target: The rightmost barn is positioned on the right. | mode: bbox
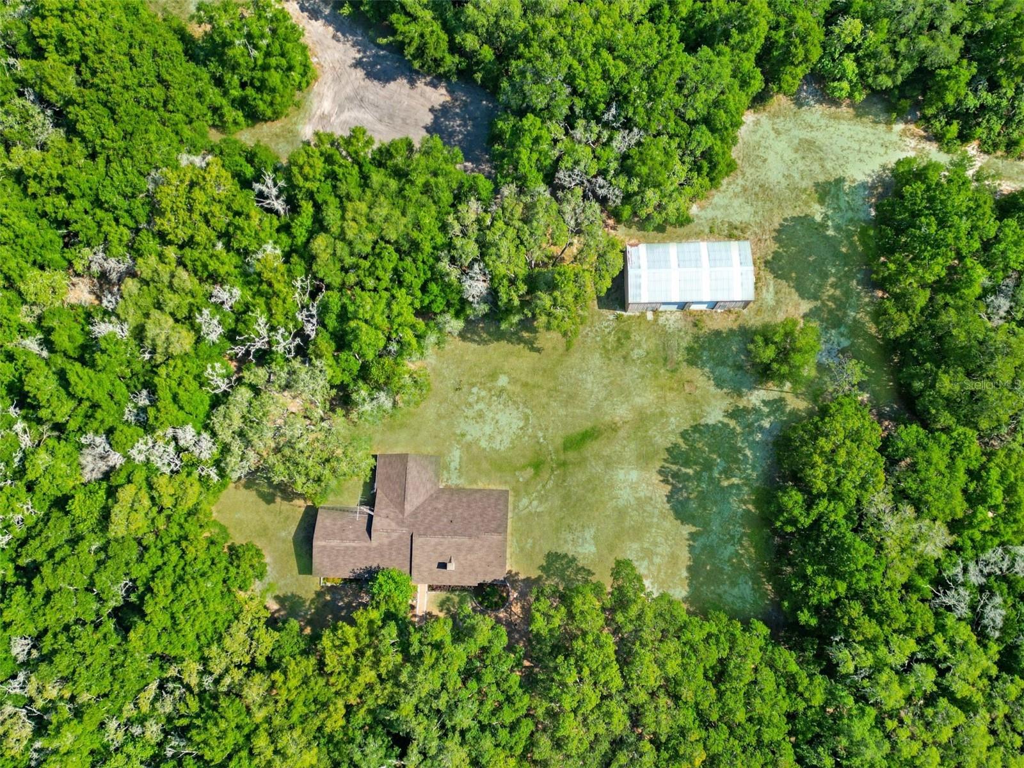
[623,240,754,312]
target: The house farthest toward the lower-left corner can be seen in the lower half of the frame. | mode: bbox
[312,454,509,586]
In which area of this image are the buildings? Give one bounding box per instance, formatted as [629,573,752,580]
[623,240,754,312]
[312,454,509,586]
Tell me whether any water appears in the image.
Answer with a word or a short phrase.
No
